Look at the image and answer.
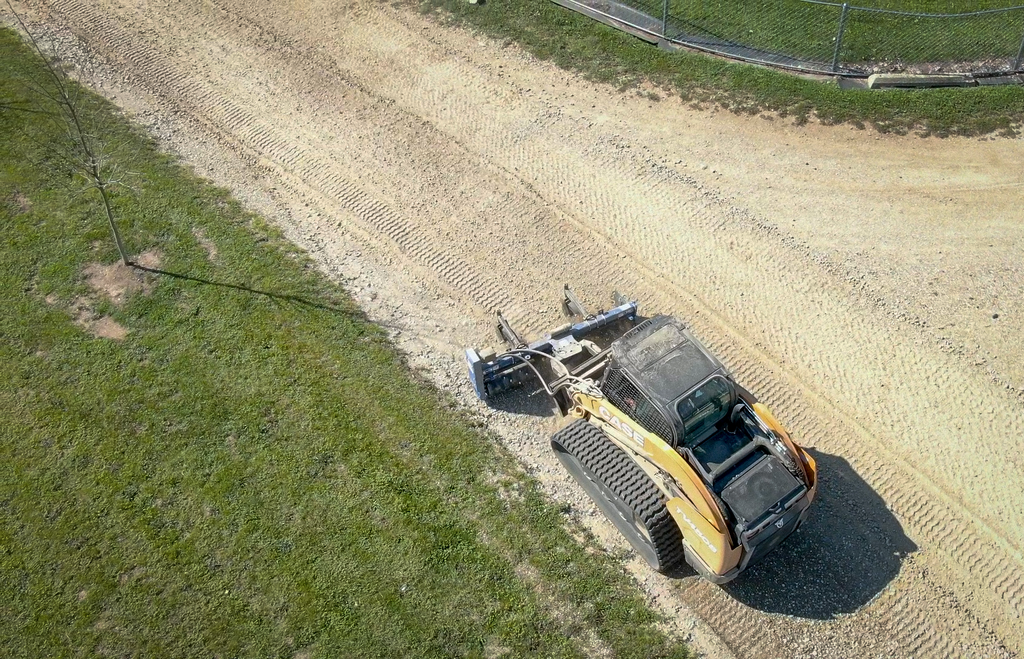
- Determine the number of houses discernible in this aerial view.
0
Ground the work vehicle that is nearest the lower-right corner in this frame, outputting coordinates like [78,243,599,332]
[552,318,820,586]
